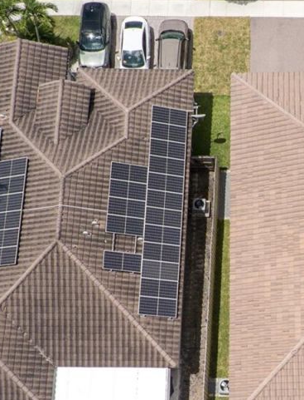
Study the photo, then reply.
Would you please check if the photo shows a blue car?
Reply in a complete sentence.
No, the frame has no blue car in it.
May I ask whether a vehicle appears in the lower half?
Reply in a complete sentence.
No, no vehicle is visible in the lower half.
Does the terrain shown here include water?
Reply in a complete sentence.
No, water can't be seen anywhere here.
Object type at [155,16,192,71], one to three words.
car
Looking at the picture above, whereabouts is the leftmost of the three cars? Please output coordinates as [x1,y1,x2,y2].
[76,0,116,70]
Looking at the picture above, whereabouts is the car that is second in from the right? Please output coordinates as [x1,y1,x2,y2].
[115,8,153,71]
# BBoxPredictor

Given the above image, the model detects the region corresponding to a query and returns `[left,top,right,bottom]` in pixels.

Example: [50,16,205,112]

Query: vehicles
[76,0,116,70]
[155,16,192,71]
[115,8,153,71]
